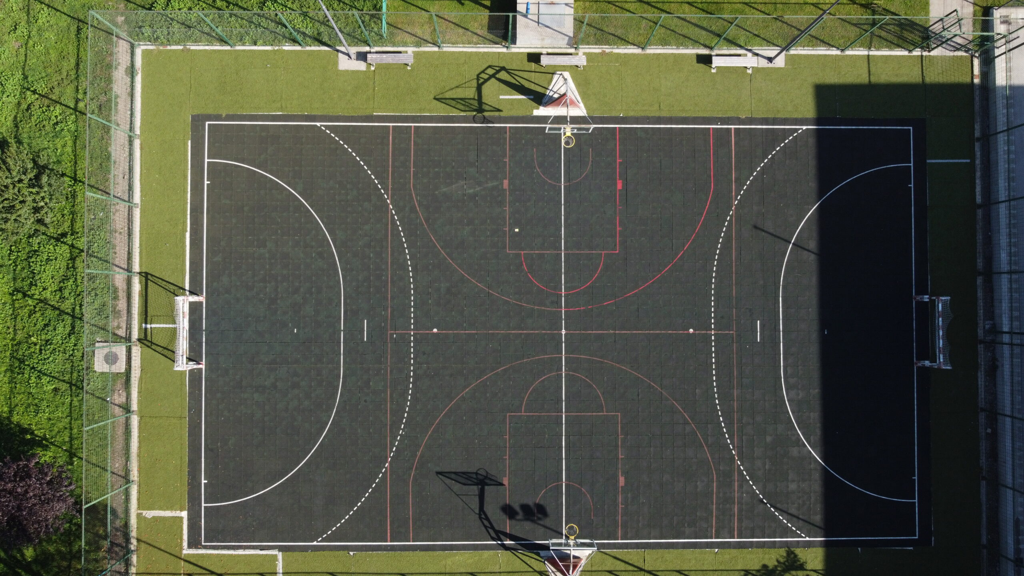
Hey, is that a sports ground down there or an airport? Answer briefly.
sports ground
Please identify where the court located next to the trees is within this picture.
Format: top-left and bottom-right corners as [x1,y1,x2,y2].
[143,95,970,552]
